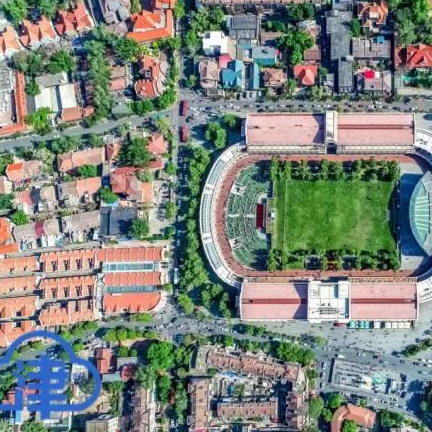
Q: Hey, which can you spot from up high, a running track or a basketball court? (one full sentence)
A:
The image shows a running track.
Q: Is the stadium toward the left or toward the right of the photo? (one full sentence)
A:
The stadium sits on the right side.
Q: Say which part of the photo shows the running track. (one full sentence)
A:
The running track is in the right part of the image.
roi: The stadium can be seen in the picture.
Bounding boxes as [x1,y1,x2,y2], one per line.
[199,111,432,323]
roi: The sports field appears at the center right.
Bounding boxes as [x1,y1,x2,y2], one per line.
[266,161,400,269]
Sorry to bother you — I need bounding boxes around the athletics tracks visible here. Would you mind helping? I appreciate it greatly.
[215,151,416,278]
